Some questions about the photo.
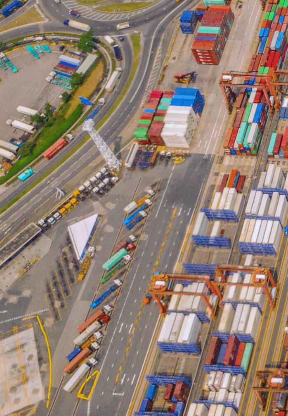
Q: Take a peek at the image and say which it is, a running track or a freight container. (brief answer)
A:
freight container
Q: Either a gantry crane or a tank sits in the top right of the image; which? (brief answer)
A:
gantry crane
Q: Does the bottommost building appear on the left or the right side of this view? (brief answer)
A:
left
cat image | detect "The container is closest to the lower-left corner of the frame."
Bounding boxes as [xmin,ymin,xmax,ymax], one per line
[62,347,93,373]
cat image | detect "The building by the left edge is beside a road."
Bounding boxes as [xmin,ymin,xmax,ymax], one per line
[0,222,45,271]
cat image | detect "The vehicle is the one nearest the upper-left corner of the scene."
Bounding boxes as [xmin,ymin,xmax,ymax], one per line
[0,0,27,17]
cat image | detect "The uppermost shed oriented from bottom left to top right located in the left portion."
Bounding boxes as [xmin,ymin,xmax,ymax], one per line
[75,55,100,78]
